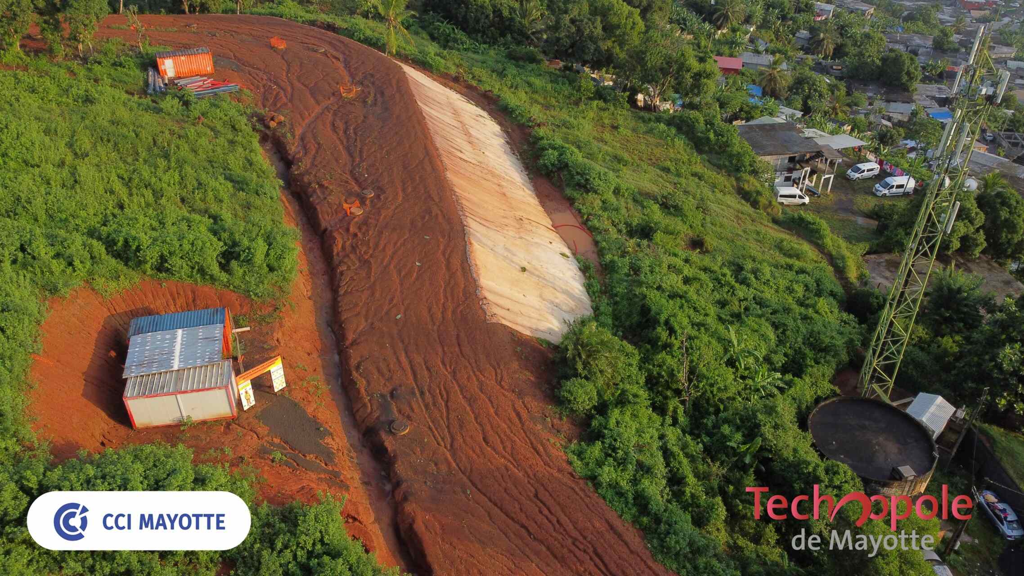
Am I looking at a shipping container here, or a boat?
shipping container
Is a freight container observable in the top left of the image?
Yes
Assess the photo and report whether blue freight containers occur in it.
Yes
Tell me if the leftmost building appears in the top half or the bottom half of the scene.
bottom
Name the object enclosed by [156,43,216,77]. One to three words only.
shipping container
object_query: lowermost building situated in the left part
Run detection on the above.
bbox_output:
[126,361,238,429]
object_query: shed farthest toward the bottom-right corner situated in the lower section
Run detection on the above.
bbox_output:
[909,393,956,438]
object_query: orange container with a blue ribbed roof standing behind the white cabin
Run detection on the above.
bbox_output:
[130,308,231,361]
